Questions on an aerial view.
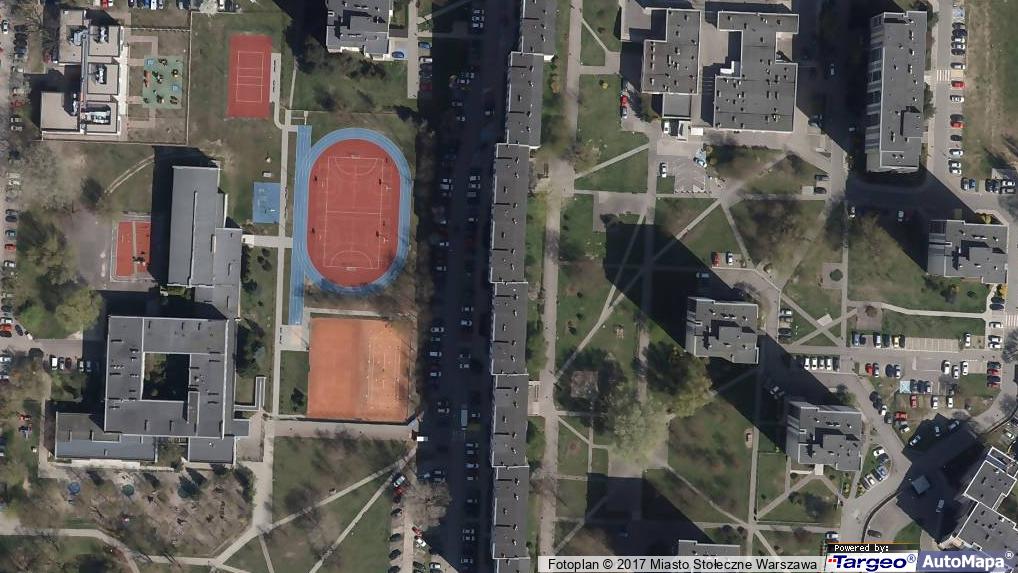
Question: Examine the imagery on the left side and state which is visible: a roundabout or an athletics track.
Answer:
athletics track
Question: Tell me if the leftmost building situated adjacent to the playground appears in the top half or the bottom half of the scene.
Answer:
top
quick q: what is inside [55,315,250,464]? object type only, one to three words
building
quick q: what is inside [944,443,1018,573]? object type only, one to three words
house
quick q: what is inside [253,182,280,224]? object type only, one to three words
sports court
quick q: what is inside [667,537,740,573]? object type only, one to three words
building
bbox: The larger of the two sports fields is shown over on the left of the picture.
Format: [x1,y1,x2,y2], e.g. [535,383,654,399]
[306,139,401,286]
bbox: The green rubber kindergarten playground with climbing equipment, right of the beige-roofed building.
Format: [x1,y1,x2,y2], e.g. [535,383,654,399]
[142,56,183,108]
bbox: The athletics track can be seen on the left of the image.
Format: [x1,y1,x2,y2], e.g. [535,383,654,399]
[289,125,411,325]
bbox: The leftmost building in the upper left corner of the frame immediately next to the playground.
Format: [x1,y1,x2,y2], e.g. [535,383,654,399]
[41,10,122,133]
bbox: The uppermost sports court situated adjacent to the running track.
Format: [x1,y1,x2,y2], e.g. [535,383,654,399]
[228,35,271,117]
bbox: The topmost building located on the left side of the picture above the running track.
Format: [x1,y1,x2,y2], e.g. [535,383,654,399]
[327,0,392,59]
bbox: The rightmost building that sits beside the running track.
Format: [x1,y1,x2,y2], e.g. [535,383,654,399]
[486,0,556,573]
